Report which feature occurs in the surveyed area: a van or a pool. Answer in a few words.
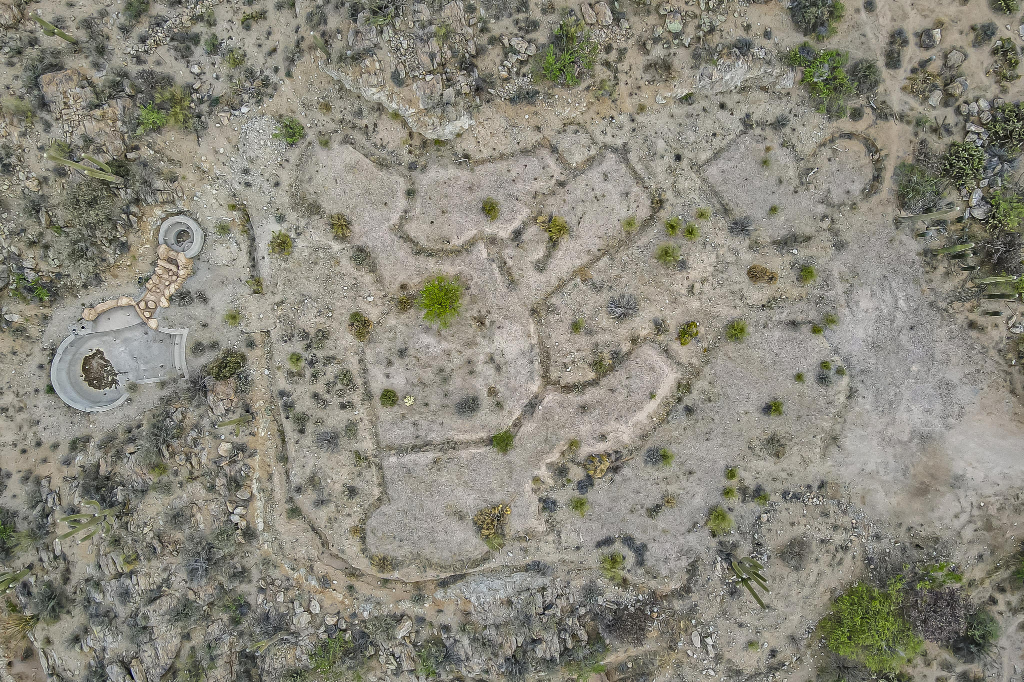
pool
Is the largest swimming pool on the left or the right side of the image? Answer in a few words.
left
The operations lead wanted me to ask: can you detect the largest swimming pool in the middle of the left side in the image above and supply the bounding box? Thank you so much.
[51,310,191,412]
